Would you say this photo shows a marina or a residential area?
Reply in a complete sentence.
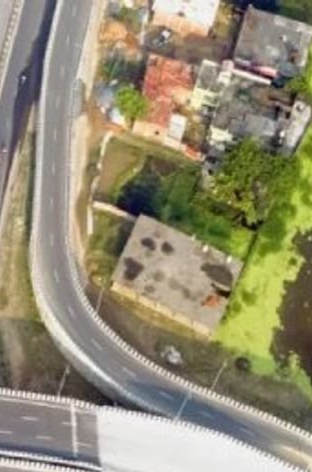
The picture captures a residential area.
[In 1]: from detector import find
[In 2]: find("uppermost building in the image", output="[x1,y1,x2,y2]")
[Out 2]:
[152,0,218,41]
